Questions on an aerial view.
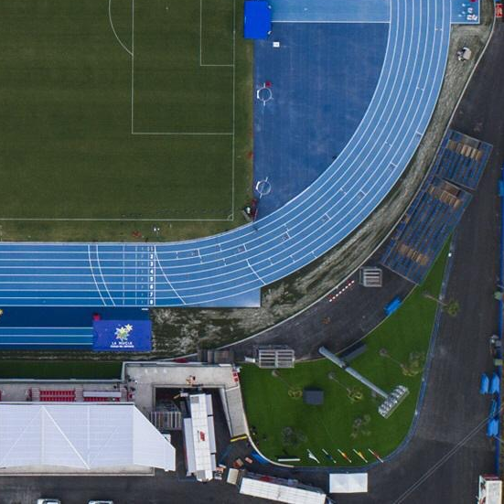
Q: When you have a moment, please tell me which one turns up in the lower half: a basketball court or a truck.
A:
truck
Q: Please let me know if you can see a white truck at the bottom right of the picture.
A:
Yes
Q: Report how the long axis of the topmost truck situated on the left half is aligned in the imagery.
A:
vertically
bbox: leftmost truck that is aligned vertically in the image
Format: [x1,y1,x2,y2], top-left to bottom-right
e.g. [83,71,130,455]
[179,389,215,479]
